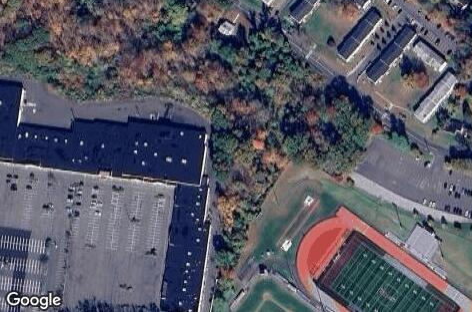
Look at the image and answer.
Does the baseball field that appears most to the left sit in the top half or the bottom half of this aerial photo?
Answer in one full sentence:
The baseball field that appears most to the left sits in the bottom half of the picture.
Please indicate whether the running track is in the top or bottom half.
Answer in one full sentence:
The bottom half of the photo is where the running track is.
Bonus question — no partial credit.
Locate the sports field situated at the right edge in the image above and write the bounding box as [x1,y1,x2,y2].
[314,230,455,312]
